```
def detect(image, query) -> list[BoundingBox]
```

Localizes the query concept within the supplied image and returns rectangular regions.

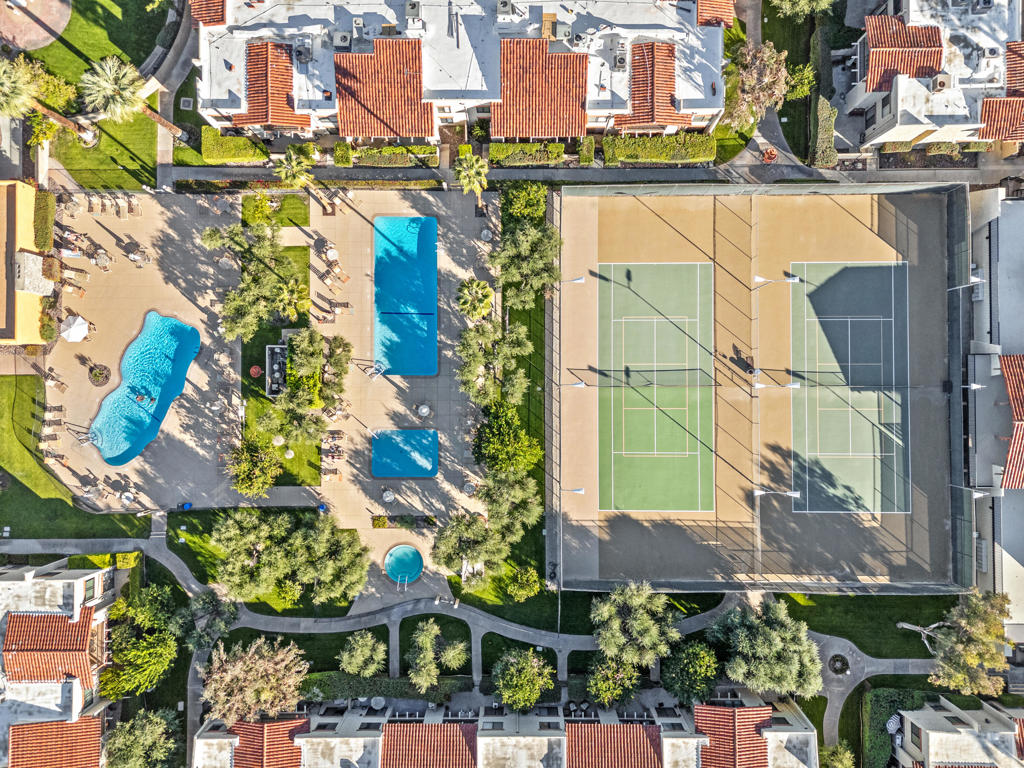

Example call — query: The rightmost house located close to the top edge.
[835,0,1024,156]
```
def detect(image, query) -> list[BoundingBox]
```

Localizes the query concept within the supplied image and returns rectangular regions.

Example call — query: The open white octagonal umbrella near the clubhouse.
[61,314,92,343]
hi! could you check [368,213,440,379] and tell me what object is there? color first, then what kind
blue swimming pool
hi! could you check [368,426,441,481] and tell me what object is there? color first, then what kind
blue swimming pool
